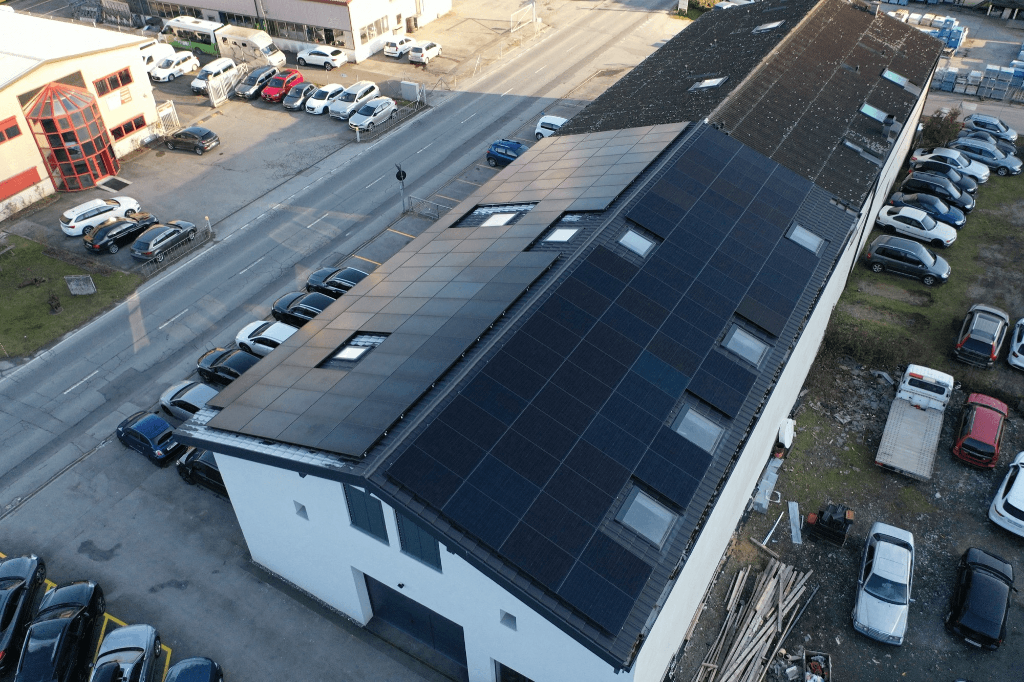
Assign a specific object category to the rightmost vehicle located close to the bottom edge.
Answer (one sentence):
I'd identify the rightmost vehicle located close to the bottom edge as a car.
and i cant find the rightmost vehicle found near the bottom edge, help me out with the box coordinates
[948,547,1022,650]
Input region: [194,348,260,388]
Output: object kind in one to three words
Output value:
car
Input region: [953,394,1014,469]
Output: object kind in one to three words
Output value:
car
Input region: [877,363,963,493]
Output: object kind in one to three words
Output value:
truck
